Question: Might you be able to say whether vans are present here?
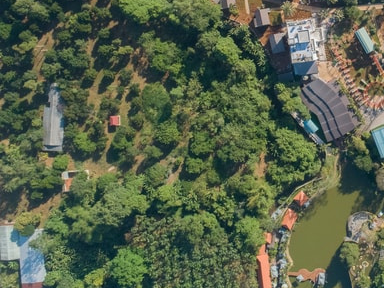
No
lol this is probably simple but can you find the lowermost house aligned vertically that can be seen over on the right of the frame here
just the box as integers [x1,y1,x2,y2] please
[257,252,273,288]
